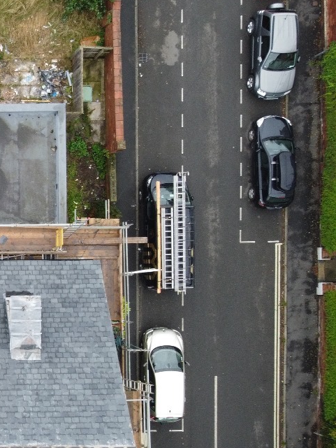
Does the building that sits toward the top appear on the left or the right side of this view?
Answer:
left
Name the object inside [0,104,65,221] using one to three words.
building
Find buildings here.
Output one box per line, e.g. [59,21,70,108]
[0,259,135,448]
[0,104,65,221]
